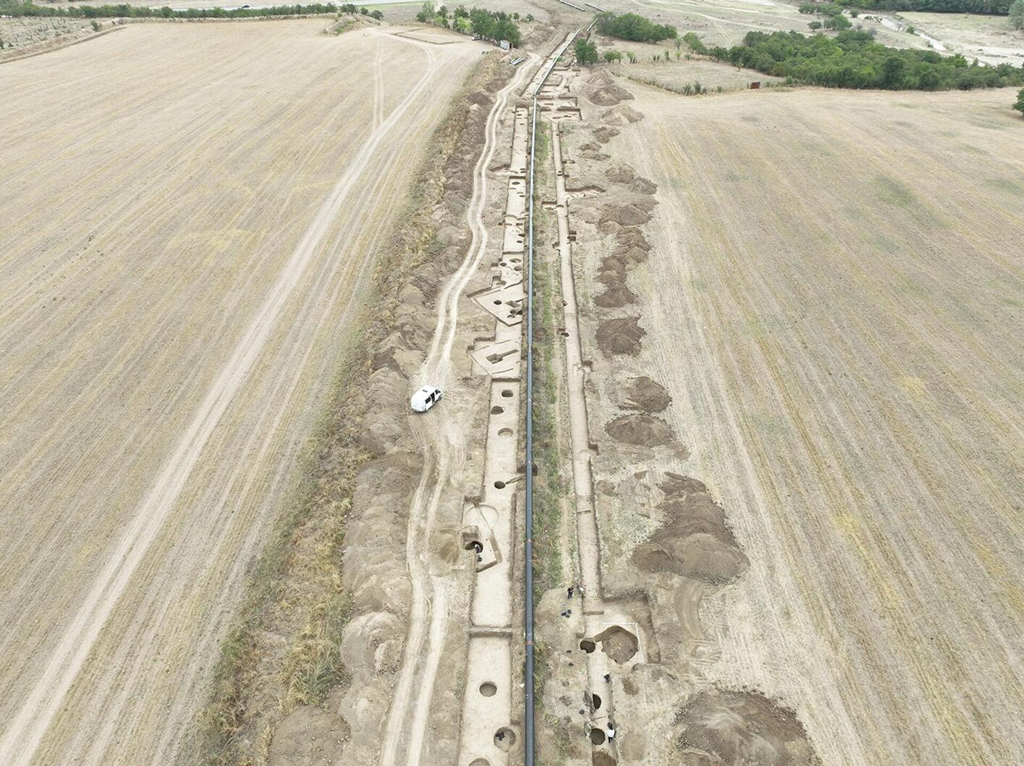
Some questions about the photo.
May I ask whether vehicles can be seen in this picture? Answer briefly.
Yes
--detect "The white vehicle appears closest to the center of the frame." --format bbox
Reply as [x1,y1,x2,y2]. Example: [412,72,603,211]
[412,385,445,411]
